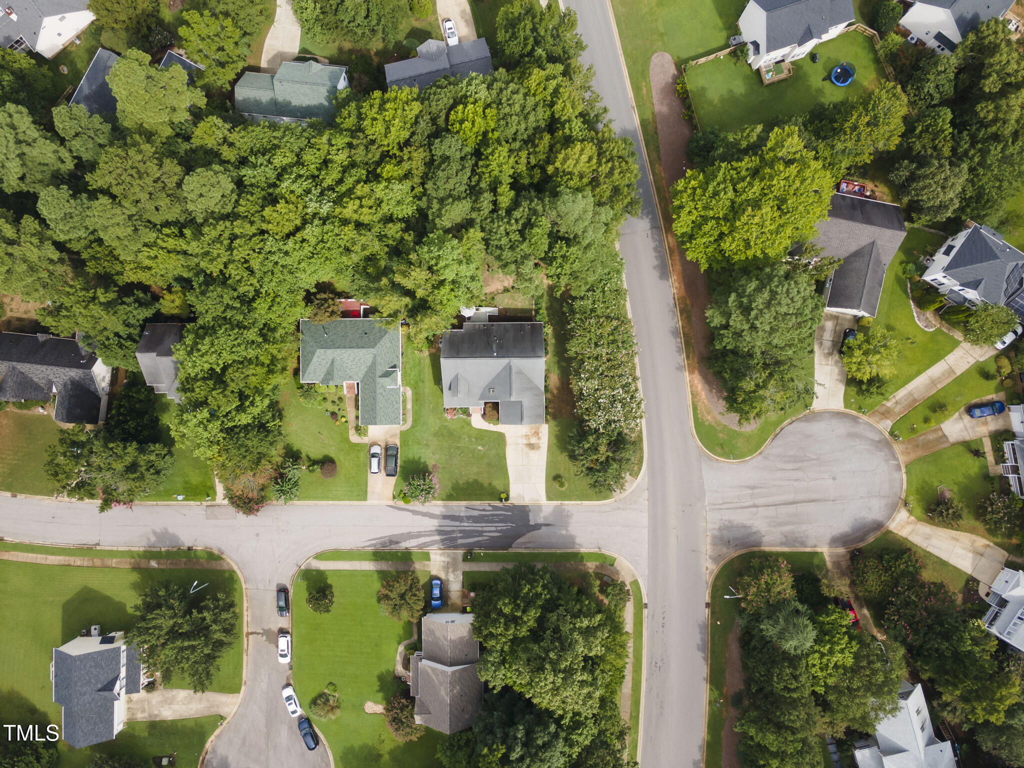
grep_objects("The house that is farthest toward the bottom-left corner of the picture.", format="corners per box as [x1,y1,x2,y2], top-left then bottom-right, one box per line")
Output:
[51,627,151,749]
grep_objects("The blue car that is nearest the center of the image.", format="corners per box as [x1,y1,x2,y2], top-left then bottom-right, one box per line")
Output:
[429,578,443,608]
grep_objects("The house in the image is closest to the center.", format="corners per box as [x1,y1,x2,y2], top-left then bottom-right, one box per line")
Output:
[440,322,545,425]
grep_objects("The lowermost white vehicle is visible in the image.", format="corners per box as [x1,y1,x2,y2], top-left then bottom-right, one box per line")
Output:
[282,685,302,718]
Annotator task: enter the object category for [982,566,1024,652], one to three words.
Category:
house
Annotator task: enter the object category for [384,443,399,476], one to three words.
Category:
vehicle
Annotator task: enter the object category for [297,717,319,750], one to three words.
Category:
car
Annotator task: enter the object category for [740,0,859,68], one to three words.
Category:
house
